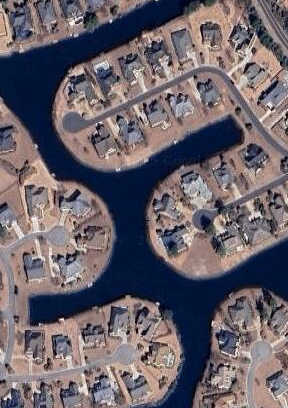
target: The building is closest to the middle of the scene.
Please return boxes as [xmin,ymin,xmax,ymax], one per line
[152,190,183,221]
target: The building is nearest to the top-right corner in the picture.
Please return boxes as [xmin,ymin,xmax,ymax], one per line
[226,27,255,56]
